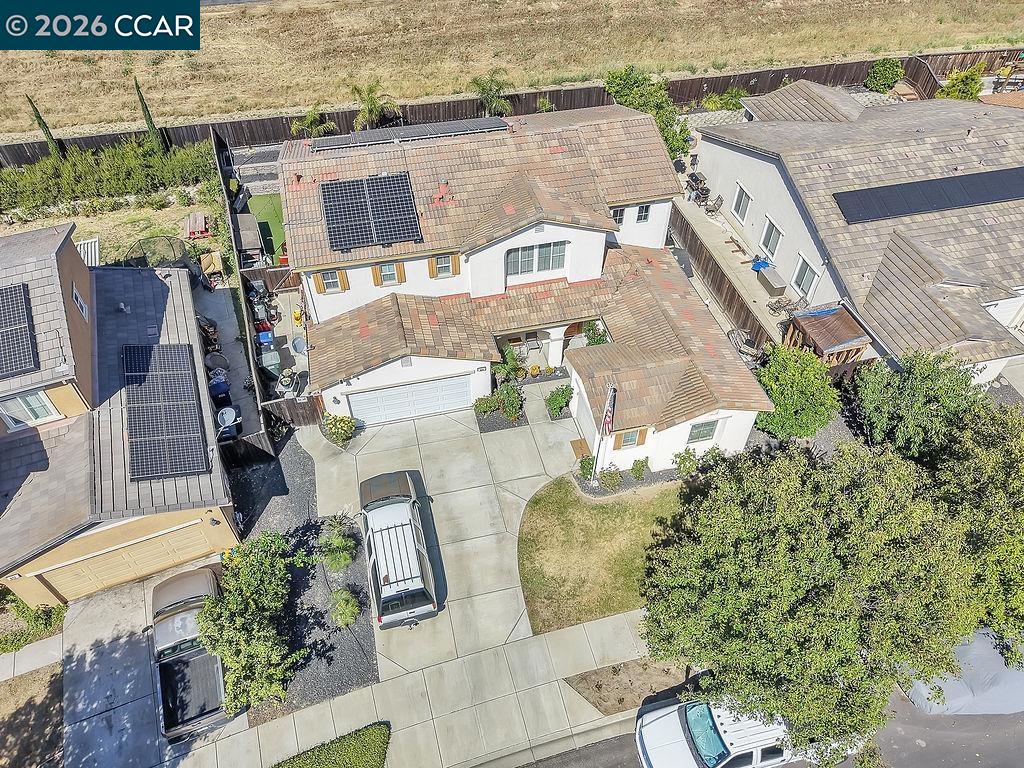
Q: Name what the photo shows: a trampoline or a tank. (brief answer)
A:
trampoline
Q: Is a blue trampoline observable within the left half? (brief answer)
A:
No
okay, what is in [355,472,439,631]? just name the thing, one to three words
car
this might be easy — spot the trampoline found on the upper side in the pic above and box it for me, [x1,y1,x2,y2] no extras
[117,232,215,307]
